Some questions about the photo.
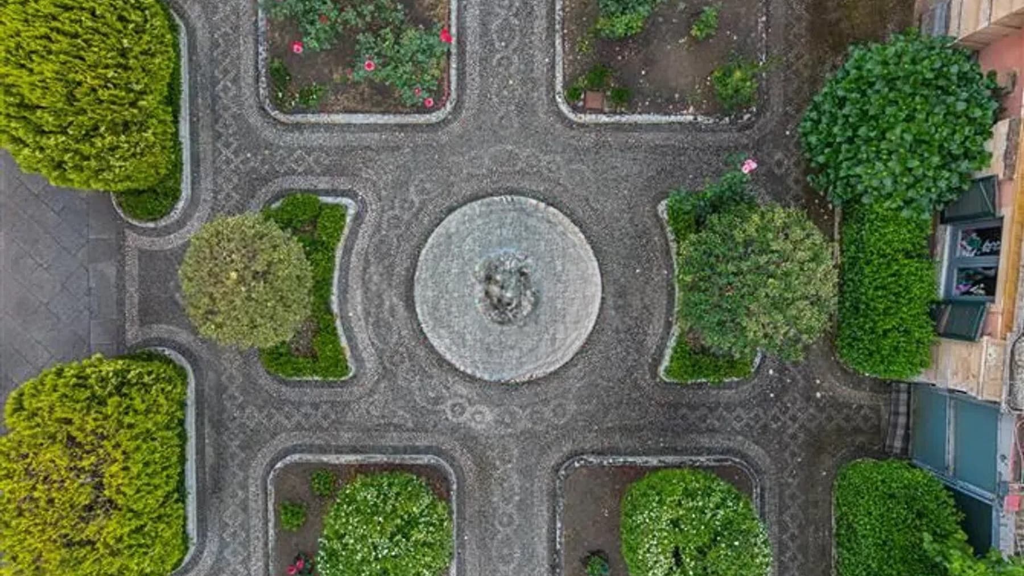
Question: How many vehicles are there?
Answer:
0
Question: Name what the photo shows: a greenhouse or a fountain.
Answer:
fountain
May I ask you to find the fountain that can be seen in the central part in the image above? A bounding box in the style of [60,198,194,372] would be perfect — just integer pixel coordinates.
[414,195,602,383]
